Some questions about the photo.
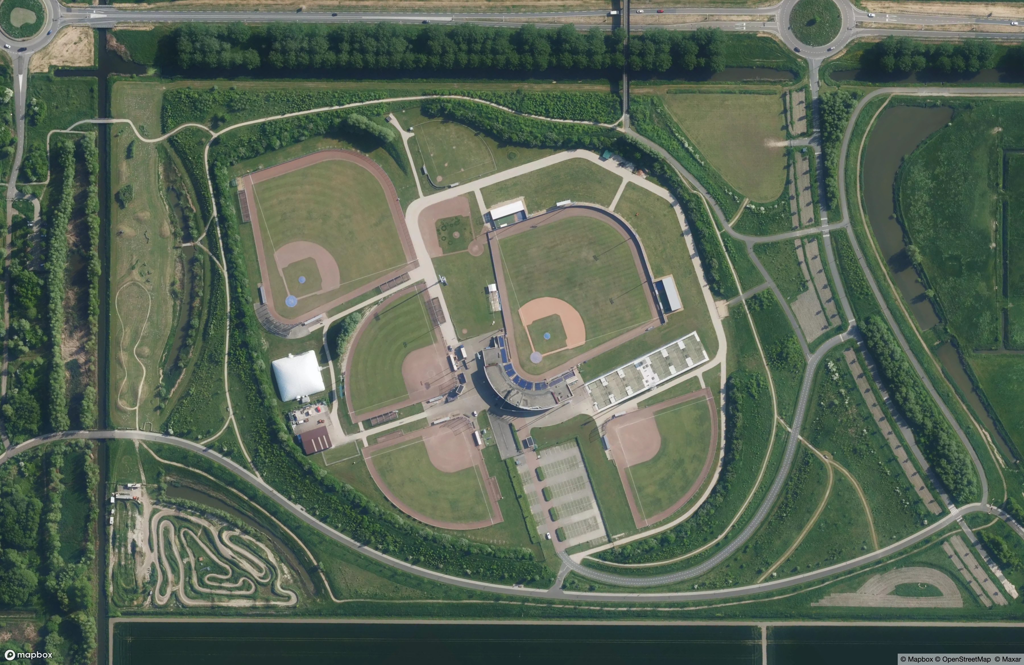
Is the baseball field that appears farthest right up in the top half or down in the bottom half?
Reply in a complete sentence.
The baseball field that appears farthest right is in the bottom half of the image.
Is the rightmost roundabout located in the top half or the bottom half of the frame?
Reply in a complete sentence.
You can find the rightmost roundabout in the top half.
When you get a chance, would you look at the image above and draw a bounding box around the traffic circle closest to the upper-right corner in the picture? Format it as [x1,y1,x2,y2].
[777,0,854,58]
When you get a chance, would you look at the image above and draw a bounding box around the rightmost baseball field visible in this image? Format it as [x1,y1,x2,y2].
[606,387,718,529]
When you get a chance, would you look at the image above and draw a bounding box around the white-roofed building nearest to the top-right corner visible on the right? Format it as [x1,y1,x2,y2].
[654,277,681,314]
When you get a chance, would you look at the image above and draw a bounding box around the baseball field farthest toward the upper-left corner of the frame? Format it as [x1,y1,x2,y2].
[244,149,419,324]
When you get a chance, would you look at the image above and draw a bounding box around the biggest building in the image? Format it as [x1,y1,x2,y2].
[585,331,709,411]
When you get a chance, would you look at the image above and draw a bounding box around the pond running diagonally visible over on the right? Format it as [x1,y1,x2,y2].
[939,343,1013,460]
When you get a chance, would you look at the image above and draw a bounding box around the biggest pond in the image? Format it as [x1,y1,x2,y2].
[864,105,953,330]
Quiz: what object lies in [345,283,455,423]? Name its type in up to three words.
baseball field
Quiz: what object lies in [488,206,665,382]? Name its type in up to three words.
baseball field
